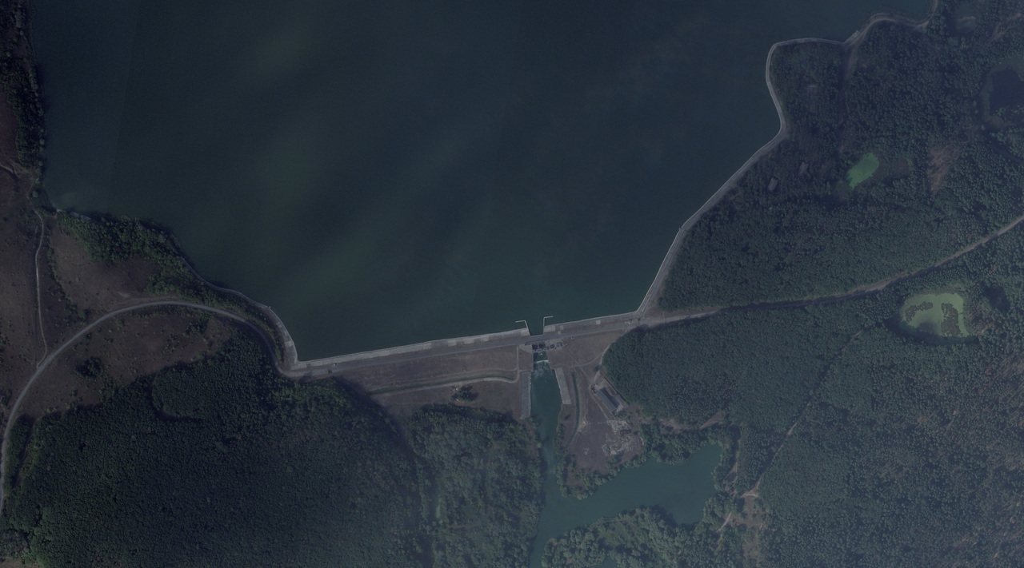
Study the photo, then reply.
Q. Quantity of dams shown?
1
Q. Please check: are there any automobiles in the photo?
No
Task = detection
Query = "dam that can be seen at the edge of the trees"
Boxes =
[291,311,638,371]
